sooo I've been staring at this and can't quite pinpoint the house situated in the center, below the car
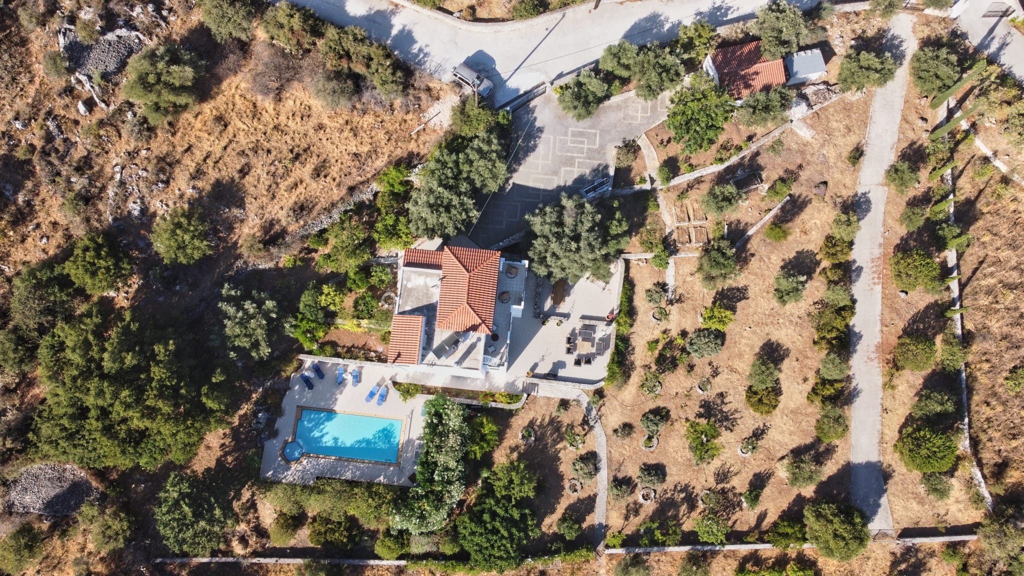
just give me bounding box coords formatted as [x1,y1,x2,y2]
[388,244,528,377]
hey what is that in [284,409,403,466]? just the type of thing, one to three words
swimming pool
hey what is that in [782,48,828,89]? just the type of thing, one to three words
shed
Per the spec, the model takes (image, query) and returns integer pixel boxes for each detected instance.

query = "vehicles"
[450,59,496,97]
